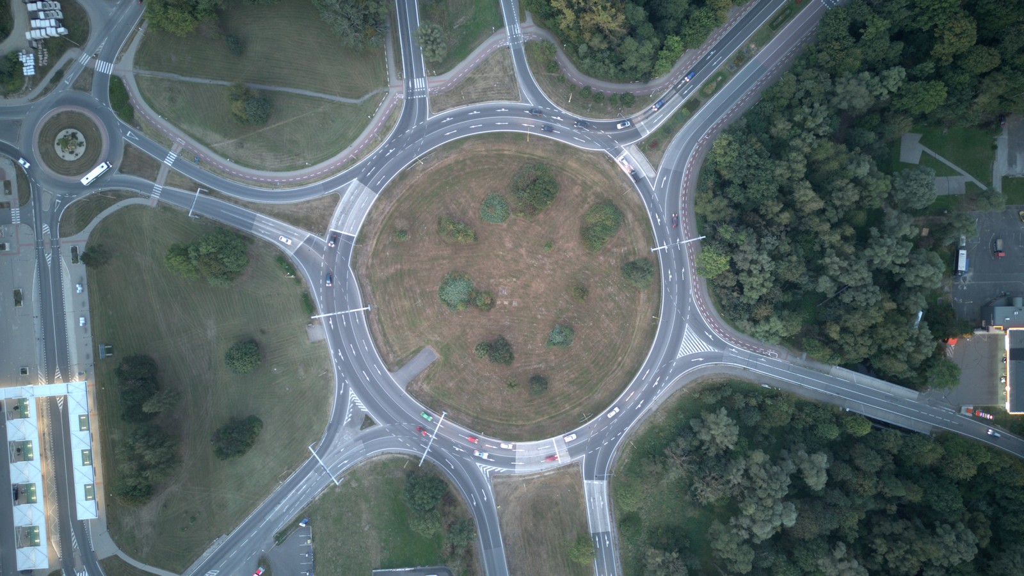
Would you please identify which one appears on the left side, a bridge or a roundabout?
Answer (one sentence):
Looking on the left side, you will find a roundabout.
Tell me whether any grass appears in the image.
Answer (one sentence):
Yes, some grass is visible.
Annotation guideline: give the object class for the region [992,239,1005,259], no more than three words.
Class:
vehicle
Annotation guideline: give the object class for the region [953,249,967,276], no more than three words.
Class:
vehicle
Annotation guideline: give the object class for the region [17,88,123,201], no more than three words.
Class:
roundabout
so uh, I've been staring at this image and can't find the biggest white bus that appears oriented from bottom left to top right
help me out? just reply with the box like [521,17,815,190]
[79,159,115,188]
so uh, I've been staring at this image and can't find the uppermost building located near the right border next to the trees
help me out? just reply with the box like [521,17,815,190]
[974,294,1024,333]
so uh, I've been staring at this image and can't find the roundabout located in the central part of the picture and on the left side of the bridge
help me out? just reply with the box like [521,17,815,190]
[292,46,731,488]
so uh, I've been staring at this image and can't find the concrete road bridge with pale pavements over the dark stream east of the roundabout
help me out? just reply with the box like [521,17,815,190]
[830,357,937,437]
